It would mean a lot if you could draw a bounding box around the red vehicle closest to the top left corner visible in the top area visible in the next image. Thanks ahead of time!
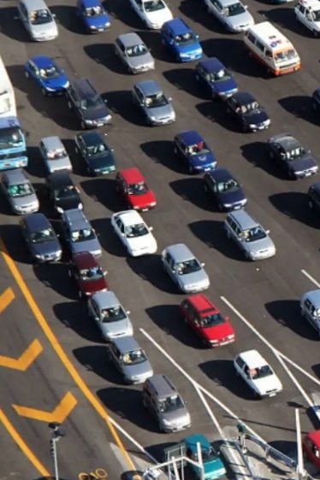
[117,166,158,209]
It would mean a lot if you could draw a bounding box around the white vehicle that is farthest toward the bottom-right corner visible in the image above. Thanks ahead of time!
[235,349,279,396]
